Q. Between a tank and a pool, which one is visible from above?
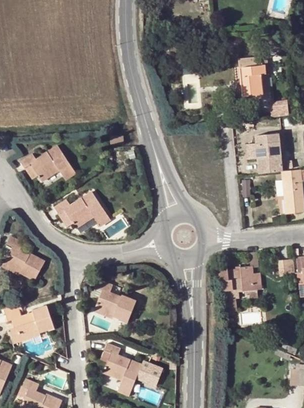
pool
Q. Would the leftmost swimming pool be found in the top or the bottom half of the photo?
bottom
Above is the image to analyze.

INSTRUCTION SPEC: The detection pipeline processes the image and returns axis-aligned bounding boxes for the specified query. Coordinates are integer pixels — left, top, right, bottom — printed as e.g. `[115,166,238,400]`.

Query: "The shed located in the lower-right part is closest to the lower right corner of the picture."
[290,365,304,388]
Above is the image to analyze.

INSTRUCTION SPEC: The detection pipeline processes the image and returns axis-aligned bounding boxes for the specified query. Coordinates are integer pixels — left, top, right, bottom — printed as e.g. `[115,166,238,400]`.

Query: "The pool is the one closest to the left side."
[22,336,54,358]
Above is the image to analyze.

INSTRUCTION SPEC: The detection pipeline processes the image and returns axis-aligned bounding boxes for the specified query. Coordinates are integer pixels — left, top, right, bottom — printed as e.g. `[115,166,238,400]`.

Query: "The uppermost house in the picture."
[238,58,266,97]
